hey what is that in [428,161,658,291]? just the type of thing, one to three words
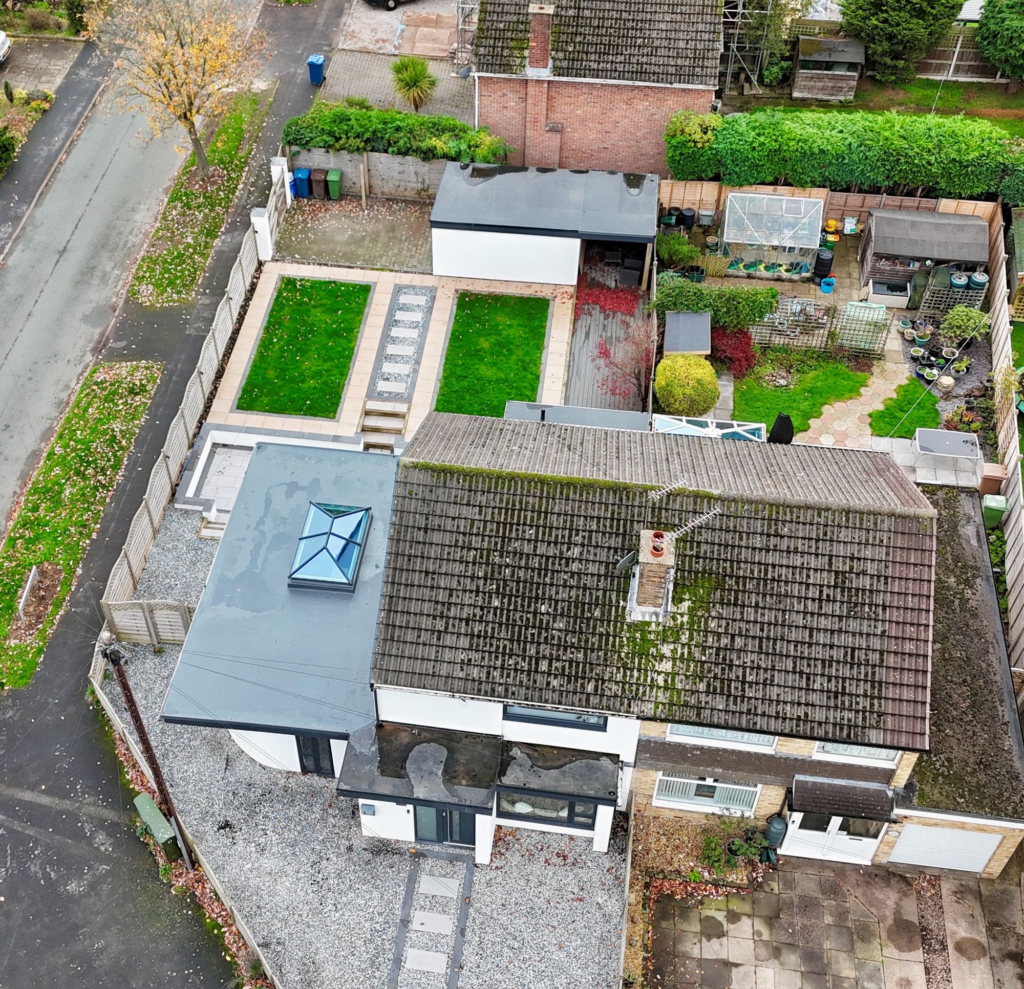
building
